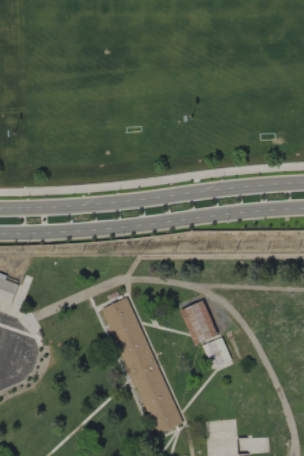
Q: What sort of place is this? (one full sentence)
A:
This looks like a sports ground.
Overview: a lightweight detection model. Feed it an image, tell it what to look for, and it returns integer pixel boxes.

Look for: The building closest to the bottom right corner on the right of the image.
[202,338,233,369]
